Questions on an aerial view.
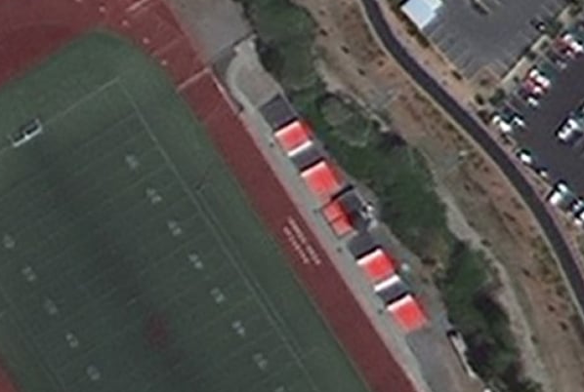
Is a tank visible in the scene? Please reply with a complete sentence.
No, no tank can be seen from above.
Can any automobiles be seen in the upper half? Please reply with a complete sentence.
Yes, there is an automobile in the upper half.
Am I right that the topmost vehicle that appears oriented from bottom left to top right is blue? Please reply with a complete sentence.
No, the topmost vehicle that appears oriented from bottom left to top right is white.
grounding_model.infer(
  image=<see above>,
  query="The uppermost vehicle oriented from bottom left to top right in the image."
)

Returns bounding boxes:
[557,118,578,140]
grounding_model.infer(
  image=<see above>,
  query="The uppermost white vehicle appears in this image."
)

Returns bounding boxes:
[565,34,584,51]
